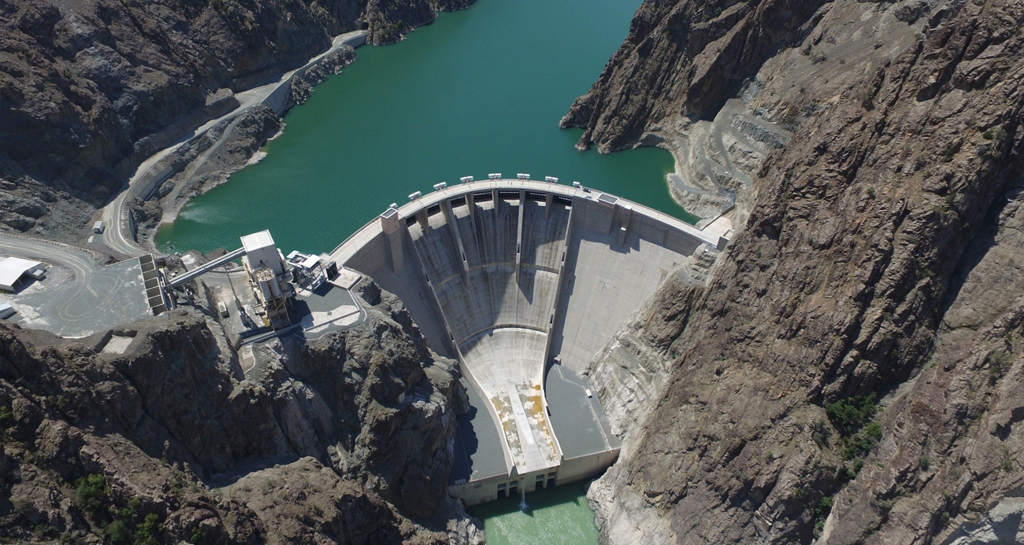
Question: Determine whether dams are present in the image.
Yes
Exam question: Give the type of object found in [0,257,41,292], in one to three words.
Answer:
building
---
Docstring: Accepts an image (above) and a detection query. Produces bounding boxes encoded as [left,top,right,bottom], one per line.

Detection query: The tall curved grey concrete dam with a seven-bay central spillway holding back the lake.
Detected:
[318,178,736,477]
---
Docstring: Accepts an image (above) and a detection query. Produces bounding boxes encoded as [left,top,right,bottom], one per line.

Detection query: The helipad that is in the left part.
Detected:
[301,305,360,332]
